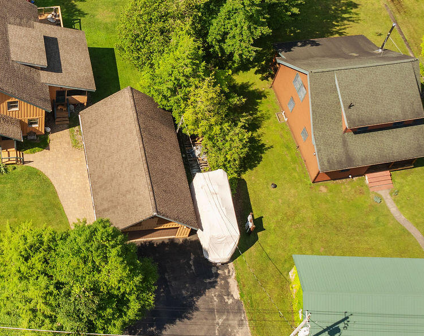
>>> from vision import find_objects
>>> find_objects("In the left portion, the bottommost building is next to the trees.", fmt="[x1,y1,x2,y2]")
[76,87,203,241]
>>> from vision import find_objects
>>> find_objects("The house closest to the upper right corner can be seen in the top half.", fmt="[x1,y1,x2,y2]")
[269,23,424,188]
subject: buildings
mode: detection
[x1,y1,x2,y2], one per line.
[76,87,203,241]
[0,0,96,169]
[269,23,424,188]
[288,255,424,336]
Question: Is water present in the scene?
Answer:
No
